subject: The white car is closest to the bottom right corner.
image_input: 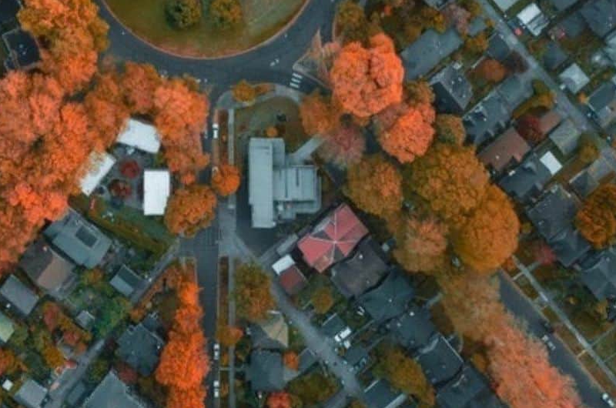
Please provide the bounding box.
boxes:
[602,392,615,407]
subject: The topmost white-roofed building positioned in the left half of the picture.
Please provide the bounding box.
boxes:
[117,116,161,154]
